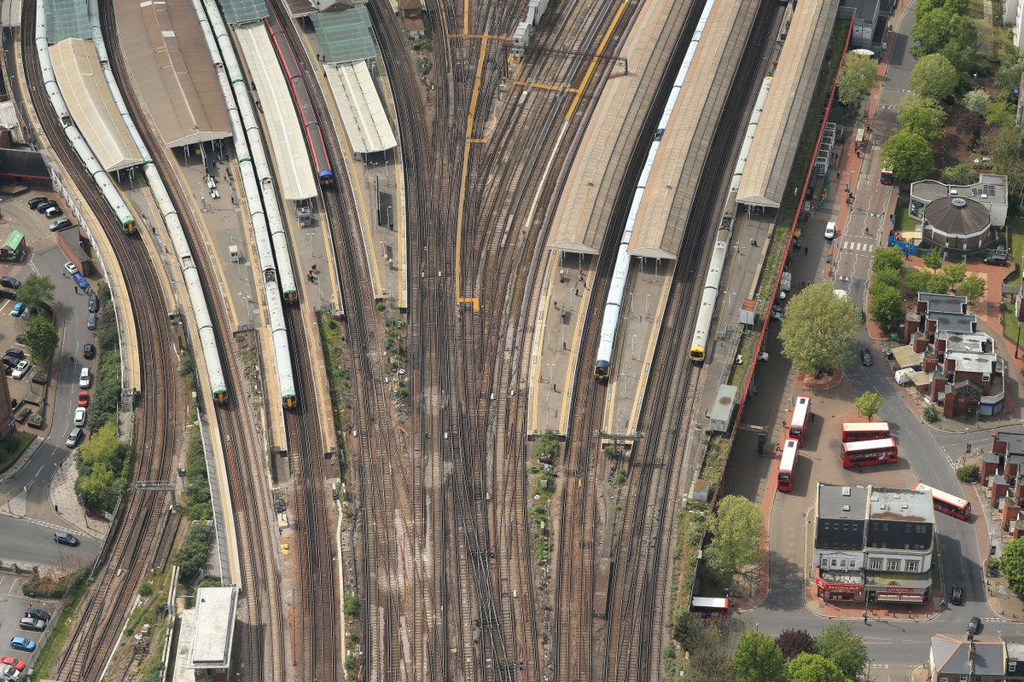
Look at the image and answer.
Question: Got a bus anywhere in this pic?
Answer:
Yes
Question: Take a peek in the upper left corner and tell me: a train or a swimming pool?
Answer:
train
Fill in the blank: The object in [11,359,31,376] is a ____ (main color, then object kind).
white car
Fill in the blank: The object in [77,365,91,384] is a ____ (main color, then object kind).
white car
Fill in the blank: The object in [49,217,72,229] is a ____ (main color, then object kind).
gray vehicle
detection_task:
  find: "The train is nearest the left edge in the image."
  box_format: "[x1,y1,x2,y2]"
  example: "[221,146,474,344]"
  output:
[34,0,136,235]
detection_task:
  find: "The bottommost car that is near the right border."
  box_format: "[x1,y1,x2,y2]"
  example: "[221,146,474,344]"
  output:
[968,615,982,634]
